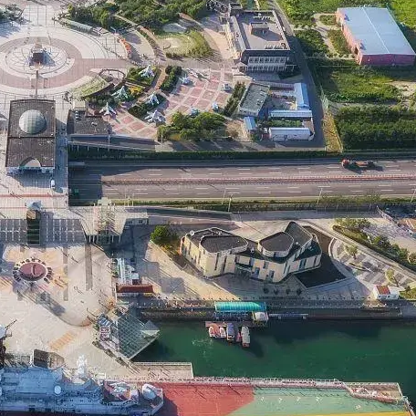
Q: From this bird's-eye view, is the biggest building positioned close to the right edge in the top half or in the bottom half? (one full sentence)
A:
You can find the biggest building positioned close to the right edge in the top half.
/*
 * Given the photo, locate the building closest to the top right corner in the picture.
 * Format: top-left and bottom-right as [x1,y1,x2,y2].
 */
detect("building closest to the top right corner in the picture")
[334,6,415,67]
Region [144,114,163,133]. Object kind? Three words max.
airplane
